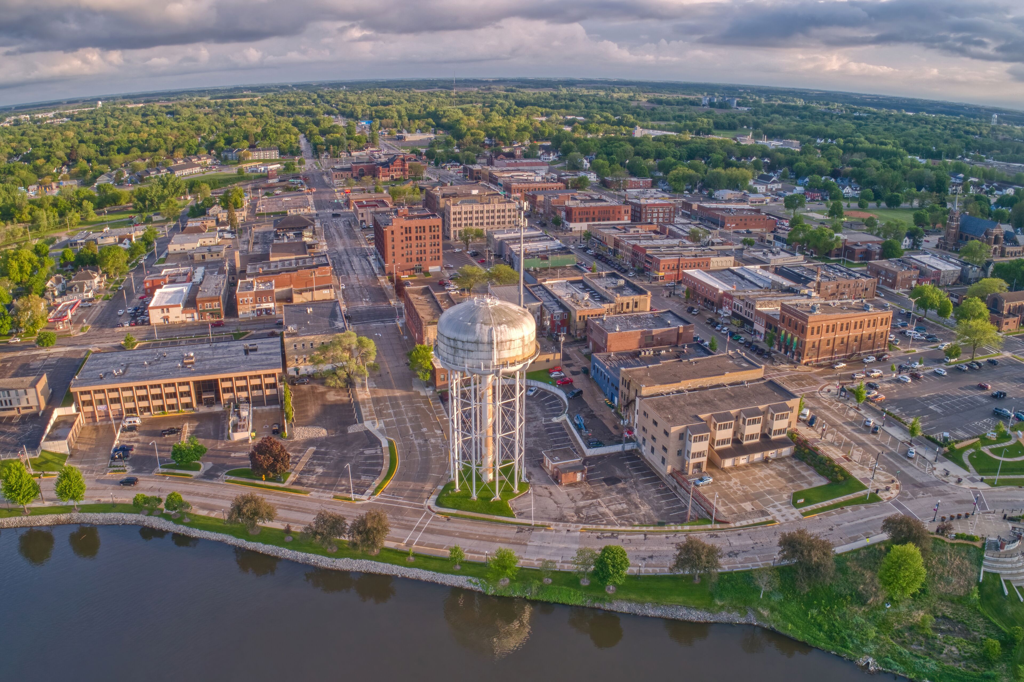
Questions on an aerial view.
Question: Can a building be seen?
Yes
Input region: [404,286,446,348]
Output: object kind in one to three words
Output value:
building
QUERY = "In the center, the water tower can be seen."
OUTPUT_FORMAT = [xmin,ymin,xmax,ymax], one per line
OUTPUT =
[433,294,540,499]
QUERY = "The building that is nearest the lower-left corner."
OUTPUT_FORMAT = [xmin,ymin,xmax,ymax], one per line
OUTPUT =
[42,413,81,452]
